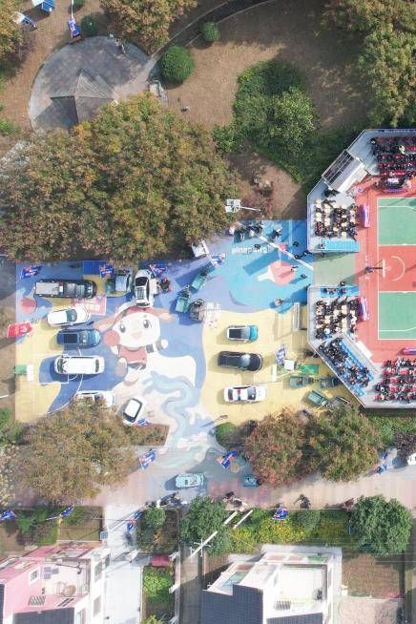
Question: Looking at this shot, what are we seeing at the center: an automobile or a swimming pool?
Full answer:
Looking at the center, you will find an automobile.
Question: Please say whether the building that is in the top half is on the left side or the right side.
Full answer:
The building that is in the top half appears in the left half of the scene.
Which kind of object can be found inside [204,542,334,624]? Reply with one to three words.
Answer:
house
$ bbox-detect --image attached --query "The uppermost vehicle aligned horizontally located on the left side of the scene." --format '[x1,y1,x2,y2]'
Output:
[33,278,98,301]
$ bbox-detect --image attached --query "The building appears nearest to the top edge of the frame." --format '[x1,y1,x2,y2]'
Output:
[37,58,111,127]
